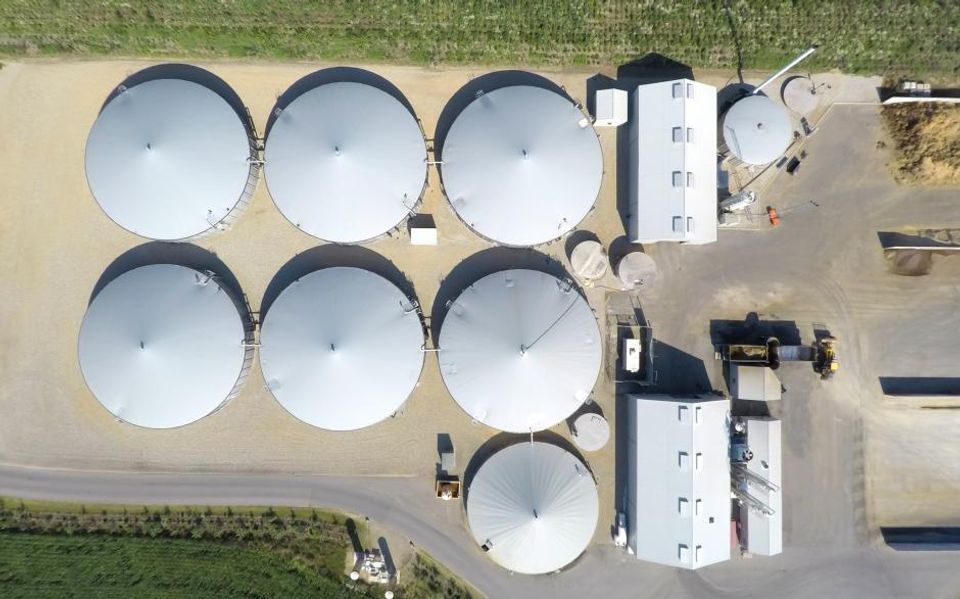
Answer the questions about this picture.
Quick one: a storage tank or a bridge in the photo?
storage tank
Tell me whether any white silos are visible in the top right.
Yes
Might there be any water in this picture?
No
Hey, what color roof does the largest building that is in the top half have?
white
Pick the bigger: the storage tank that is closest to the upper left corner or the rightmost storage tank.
the storage tank that is closest to the upper left corner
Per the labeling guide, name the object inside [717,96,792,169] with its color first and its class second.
white silo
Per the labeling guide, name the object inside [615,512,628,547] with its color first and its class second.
white vehicle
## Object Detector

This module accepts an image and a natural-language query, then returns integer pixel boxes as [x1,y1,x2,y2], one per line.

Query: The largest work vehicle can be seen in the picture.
[816,336,837,381]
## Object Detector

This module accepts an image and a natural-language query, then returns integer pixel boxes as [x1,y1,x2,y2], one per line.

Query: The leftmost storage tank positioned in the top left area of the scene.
[84,77,259,244]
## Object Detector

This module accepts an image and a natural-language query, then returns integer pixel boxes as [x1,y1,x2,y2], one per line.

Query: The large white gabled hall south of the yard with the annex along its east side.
[628,394,733,567]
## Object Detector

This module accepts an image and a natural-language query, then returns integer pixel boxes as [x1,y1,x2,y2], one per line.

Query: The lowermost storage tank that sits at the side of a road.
[467,437,599,576]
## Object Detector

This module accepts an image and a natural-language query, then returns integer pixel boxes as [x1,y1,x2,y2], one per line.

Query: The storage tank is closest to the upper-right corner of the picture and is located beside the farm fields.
[782,74,829,113]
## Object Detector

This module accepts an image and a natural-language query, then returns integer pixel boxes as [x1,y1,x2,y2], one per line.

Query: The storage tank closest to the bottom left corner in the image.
[78,262,254,429]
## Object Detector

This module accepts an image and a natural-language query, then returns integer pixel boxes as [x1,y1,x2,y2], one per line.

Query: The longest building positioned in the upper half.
[629,81,717,245]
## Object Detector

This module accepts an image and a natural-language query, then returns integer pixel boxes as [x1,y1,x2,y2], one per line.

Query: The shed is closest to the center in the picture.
[399,214,438,246]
